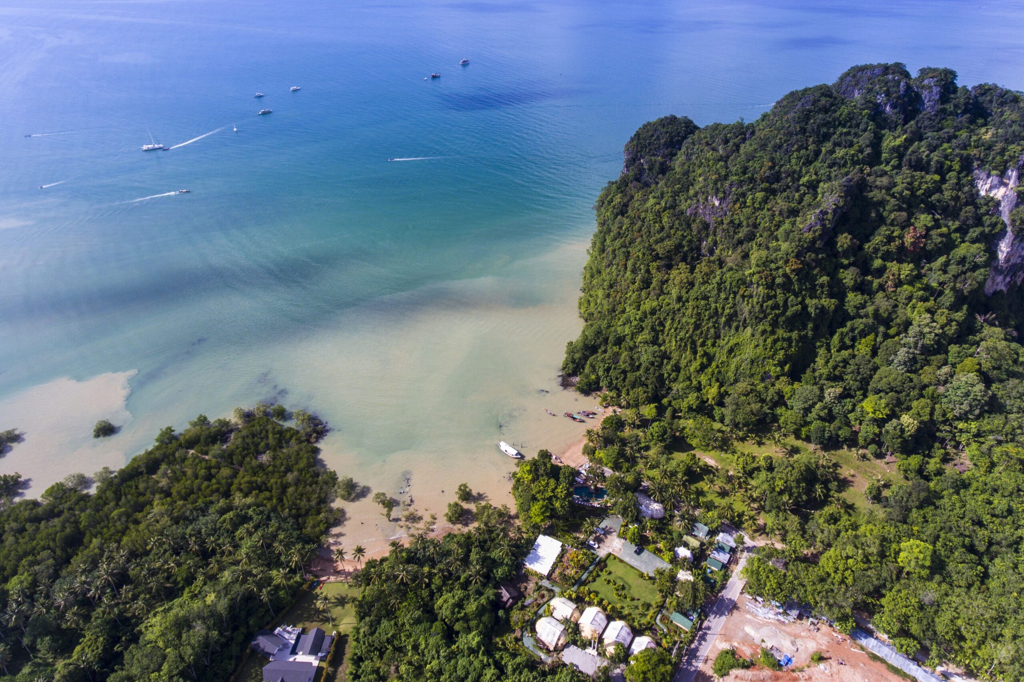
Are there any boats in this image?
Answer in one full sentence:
Yes, a boat is visible in the scene.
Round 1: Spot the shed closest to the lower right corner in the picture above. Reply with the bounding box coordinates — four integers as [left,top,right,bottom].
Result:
[853,631,943,682]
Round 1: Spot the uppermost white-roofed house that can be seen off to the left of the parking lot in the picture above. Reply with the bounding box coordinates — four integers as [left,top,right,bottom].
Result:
[524,537,562,580]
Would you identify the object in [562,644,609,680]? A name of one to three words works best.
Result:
house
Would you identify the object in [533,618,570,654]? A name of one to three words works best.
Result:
house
